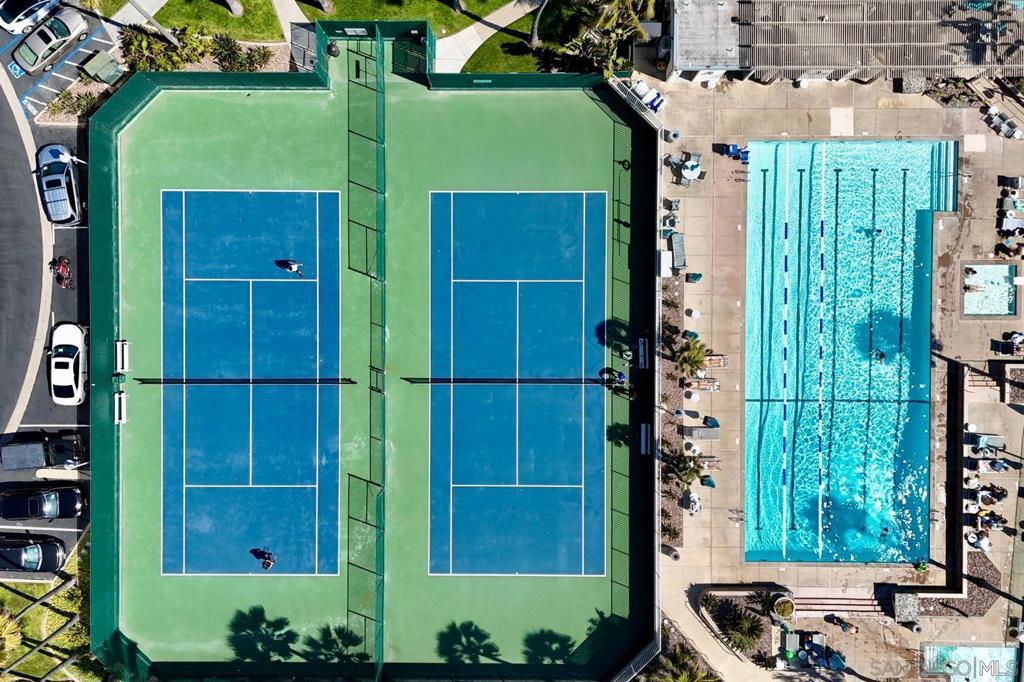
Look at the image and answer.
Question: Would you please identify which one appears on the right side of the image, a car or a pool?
pool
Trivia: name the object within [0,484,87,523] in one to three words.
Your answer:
car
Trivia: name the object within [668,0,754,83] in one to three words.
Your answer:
building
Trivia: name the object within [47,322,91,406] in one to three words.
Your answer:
car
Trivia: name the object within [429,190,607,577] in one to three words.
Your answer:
tennis court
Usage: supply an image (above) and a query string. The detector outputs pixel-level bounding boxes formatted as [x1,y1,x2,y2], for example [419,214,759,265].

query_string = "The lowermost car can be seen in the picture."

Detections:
[0,538,69,577]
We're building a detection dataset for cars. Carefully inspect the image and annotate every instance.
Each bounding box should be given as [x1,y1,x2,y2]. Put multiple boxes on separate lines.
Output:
[35,142,86,226]
[47,322,91,406]
[8,11,93,73]
[0,538,69,577]
[0,484,87,523]
[0,432,84,469]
